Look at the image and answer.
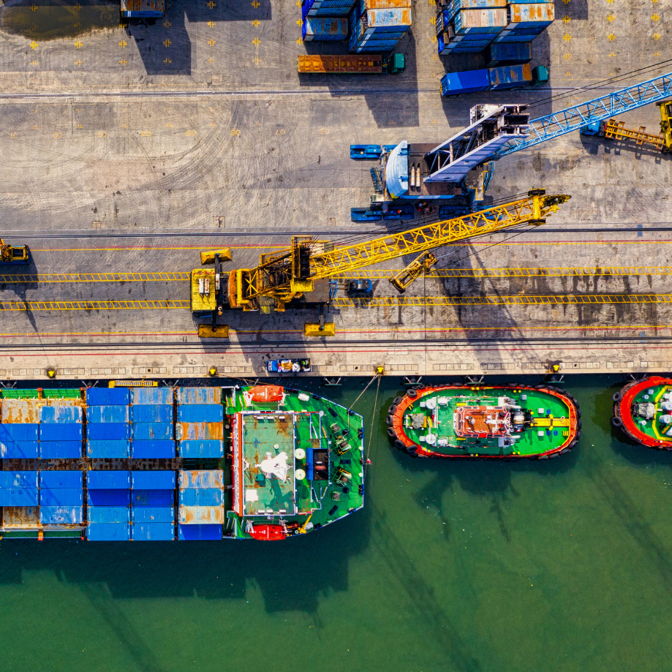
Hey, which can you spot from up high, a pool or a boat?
boat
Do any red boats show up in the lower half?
Yes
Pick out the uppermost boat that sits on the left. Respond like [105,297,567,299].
[248,384,283,402]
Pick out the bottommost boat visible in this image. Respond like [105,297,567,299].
[251,523,286,542]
